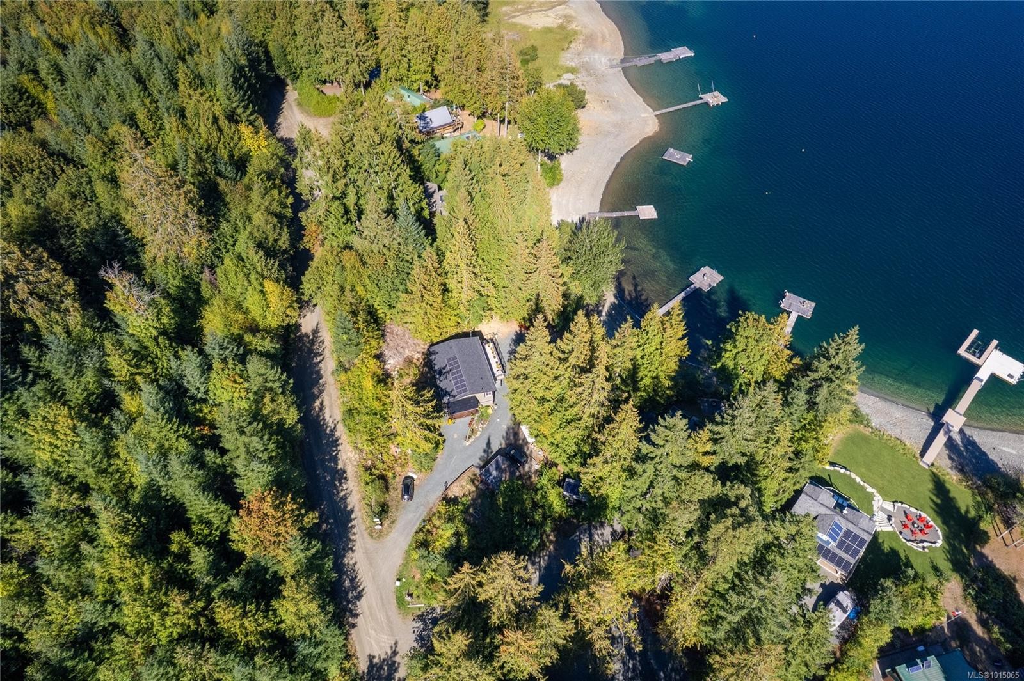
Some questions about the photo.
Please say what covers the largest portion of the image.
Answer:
trees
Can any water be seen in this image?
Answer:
Yes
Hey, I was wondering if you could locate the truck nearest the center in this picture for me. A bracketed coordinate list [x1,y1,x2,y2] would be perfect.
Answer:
[503,443,536,470]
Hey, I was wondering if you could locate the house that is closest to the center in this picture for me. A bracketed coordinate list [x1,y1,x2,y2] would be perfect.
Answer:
[429,337,510,423]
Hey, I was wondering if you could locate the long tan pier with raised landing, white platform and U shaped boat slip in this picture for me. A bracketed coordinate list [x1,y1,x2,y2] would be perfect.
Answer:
[920,329,1024,469]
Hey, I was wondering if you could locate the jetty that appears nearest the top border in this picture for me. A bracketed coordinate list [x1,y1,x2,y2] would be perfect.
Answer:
[614,46,695,68]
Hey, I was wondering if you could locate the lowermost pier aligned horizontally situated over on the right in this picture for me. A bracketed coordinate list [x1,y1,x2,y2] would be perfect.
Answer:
[588,204,658,221]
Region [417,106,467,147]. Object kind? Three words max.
building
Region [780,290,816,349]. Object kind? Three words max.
pier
